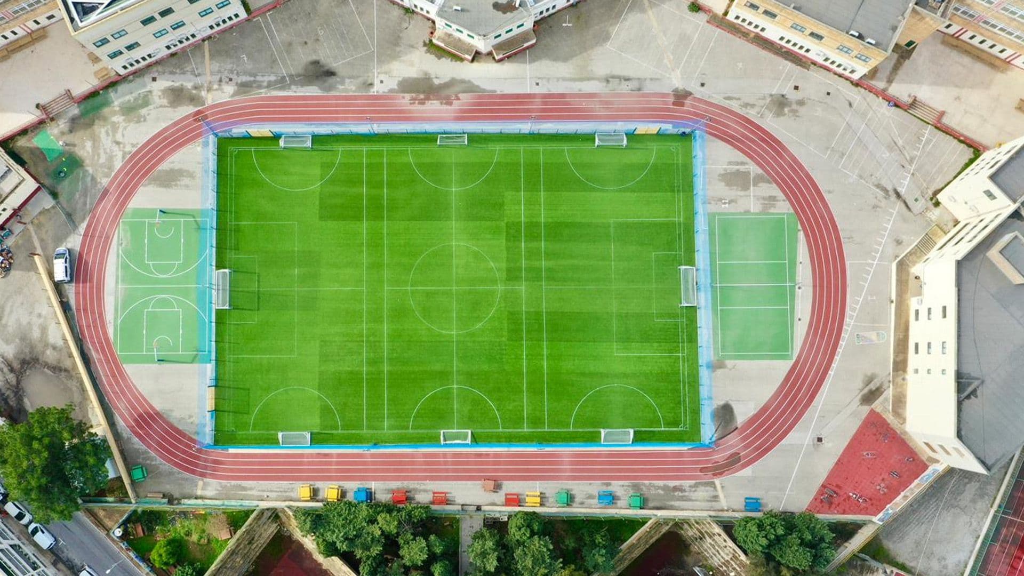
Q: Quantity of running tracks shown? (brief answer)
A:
one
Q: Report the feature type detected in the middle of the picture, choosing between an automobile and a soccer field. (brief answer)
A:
soccer field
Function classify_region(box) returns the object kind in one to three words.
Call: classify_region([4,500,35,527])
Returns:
car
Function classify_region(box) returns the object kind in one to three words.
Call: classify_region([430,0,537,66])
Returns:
building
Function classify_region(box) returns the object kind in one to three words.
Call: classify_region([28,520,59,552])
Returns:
car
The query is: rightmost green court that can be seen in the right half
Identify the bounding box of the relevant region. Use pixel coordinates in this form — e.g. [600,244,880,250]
[708,213,800,360]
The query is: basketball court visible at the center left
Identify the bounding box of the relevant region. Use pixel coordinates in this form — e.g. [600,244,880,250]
[113,209,209,364]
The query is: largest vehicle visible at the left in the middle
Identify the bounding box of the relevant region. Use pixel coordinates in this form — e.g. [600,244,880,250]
[53,248,74,282]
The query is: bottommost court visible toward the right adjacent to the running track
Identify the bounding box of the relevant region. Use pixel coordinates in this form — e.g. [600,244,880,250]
[622,525,724,576]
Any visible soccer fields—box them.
[214,133,702,445]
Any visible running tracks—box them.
[74,94,846,483]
